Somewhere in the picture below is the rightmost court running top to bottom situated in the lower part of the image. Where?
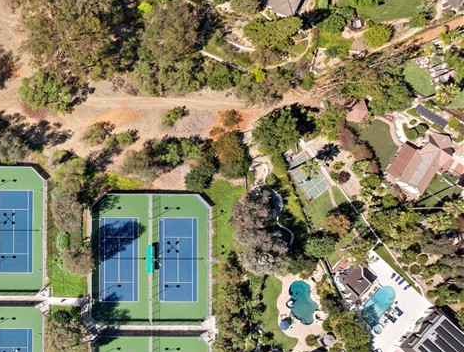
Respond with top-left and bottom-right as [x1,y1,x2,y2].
[149,195,208,324]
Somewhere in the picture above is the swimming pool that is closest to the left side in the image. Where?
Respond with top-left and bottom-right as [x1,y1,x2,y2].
[287,278,320,325]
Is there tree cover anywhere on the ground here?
Yes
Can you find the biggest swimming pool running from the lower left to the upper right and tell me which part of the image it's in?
bottom right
